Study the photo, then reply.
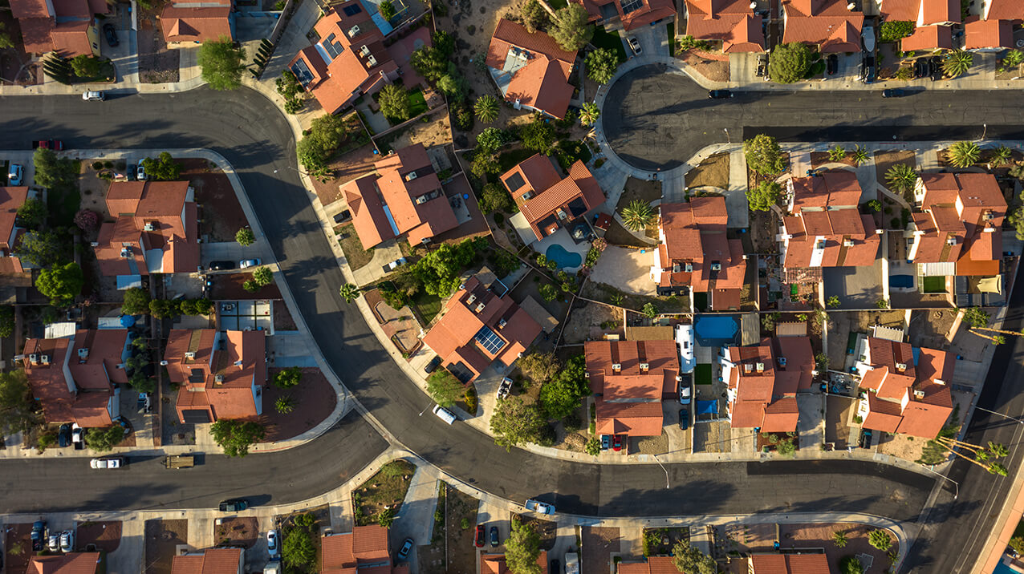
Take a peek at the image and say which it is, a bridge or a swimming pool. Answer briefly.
swimming pool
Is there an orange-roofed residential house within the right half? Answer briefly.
Yes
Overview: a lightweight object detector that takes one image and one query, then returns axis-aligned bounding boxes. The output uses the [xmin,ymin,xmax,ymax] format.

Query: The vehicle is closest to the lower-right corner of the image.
[860,425,873,453]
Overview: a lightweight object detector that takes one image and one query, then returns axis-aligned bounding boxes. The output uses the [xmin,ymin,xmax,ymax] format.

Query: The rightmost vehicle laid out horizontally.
[879,88,905,100]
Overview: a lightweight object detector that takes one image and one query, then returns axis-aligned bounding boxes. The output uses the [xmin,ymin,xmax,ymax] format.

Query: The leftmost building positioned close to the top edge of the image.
[8,0,116,61]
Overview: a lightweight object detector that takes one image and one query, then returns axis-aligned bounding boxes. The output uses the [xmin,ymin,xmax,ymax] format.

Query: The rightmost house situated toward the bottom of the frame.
[850,325,957,440]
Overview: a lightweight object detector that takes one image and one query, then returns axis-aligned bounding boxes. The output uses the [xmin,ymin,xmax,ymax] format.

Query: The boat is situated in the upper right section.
[862,23,876,54]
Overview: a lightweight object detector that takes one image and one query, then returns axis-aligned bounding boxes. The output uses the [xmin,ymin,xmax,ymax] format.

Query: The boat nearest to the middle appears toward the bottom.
[496,371,512,403]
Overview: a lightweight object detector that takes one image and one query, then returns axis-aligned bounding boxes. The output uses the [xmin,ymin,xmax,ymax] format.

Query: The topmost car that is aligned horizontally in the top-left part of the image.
[82,90,108,102]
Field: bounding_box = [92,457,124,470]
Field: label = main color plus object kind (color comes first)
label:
white vehicle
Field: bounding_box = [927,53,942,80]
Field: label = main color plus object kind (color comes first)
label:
black car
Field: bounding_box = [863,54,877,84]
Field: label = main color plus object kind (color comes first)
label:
black vehicle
